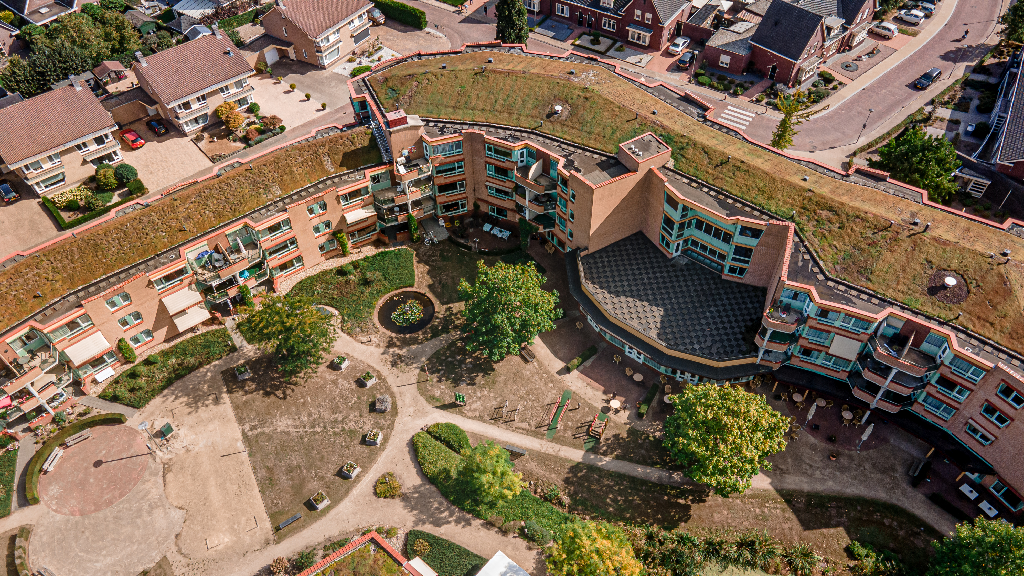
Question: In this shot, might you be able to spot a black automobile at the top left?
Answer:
Yes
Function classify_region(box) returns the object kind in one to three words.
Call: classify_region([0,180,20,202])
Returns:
car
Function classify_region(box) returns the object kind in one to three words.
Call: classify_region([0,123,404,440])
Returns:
building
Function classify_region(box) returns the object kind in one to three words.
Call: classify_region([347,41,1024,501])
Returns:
building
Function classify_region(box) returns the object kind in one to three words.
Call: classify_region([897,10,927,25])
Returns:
car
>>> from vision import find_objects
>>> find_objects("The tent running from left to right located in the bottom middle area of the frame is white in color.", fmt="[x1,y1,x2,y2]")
[473,550,529,576]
